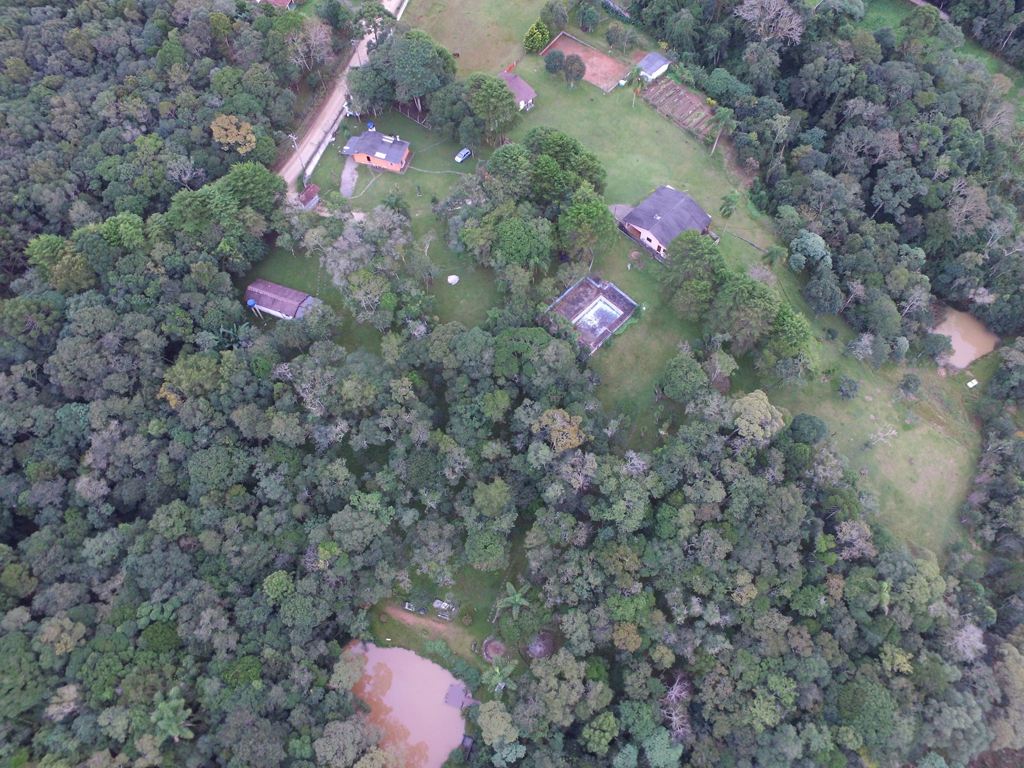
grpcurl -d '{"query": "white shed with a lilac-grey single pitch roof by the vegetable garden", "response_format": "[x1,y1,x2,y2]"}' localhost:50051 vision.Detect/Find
[633,44,673,80]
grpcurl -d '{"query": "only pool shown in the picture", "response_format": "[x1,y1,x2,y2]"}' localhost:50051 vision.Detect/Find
[545,274,639,356]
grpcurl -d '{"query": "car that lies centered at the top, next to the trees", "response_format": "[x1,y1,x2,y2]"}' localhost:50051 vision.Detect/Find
[453,144,473,162]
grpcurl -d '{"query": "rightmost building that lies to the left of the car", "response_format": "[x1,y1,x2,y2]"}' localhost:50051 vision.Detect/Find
[338,126,411,171]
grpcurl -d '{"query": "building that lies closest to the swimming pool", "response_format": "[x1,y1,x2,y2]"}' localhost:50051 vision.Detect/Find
[620,189,709,257]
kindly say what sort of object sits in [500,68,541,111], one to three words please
building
